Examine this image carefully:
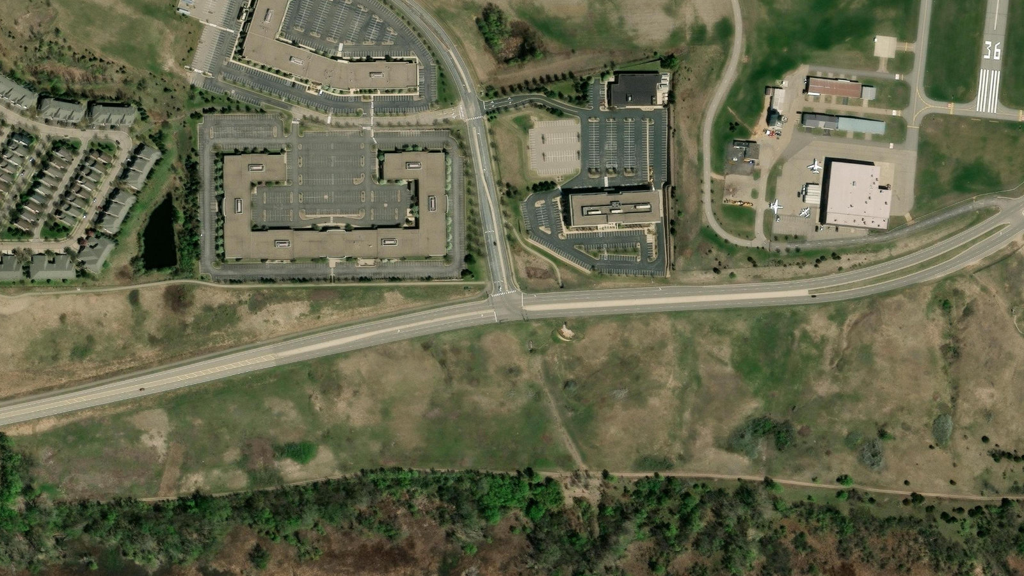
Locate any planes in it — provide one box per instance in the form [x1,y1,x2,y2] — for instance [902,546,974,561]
[801,208,810,217]
[769,199,782,214]
[807,159,822,173]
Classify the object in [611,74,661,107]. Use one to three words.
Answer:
building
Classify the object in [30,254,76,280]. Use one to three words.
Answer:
house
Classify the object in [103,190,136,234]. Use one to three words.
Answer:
house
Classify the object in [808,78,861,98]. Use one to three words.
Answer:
shed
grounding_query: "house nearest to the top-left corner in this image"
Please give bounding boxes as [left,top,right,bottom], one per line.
[0,73,37,109]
